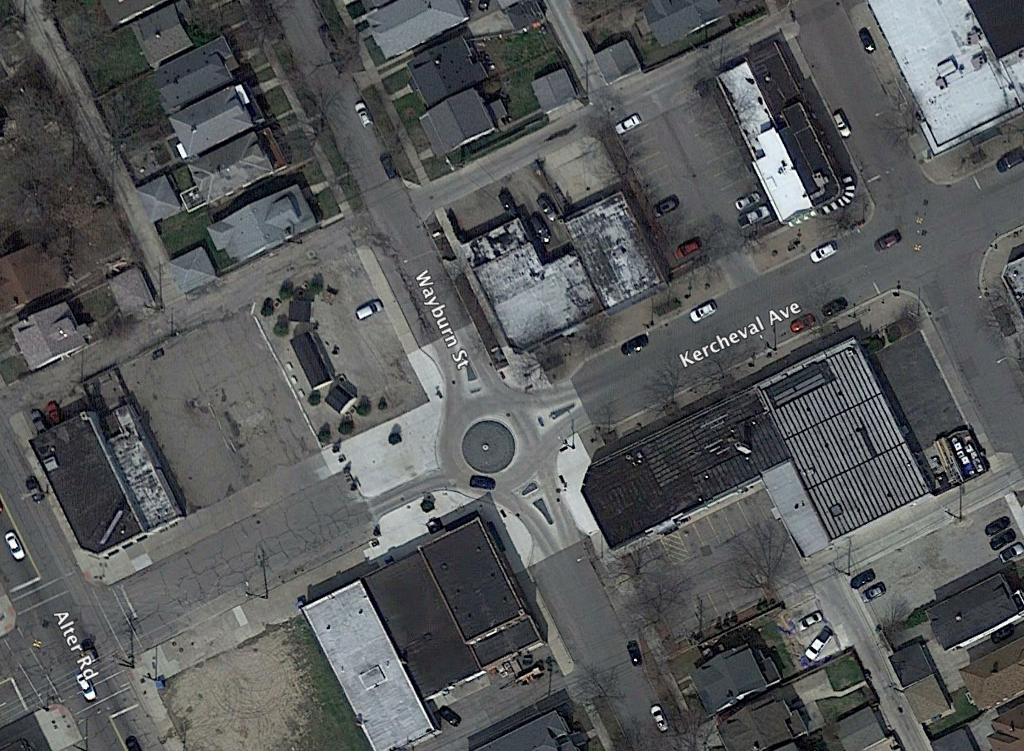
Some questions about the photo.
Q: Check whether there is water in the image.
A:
No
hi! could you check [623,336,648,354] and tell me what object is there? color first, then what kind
black car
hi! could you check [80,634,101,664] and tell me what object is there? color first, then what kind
black truck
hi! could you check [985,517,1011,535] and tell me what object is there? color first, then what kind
black car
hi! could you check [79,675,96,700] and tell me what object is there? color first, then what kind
white car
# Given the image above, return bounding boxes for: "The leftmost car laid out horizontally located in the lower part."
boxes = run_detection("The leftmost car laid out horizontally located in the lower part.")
[470,476,496,489]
